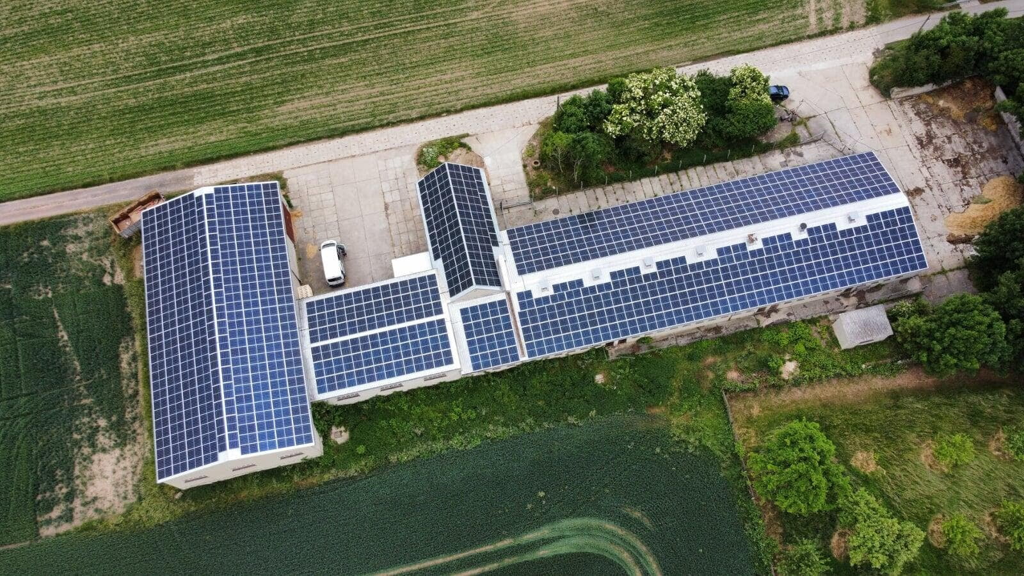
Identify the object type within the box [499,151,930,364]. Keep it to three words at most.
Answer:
building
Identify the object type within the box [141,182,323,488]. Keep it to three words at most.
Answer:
barn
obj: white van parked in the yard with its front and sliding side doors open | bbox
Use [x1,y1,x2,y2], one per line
[320,241,347,288]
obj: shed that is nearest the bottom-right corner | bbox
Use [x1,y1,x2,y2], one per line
[832,304,894,350]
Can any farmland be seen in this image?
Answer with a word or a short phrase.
Yes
